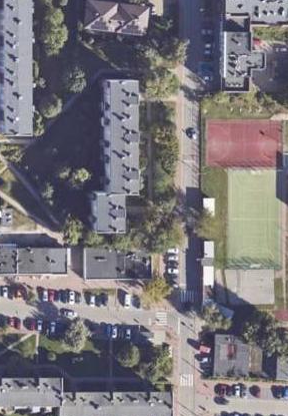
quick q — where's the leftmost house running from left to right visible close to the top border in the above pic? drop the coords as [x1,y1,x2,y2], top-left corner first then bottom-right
[84,0,150,36]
